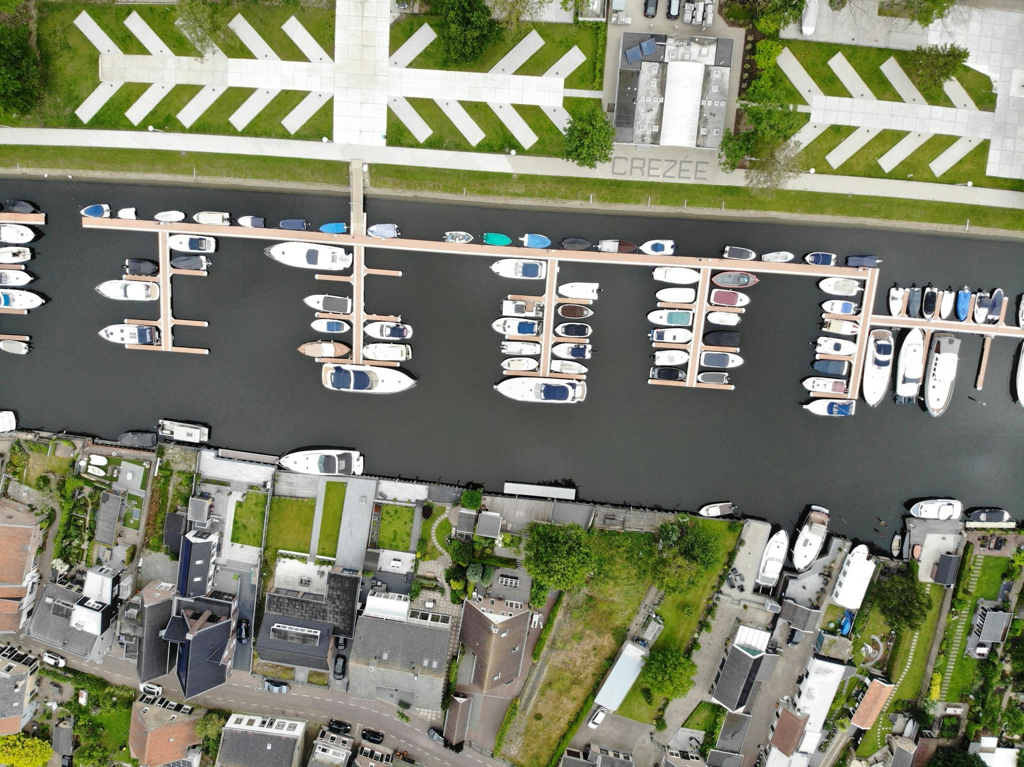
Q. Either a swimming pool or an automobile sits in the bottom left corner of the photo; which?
automobile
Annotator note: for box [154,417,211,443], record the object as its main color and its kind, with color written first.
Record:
white boat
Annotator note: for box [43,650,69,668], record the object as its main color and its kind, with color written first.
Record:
white car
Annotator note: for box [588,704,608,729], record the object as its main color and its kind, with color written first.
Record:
white car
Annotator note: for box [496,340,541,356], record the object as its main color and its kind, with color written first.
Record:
white boat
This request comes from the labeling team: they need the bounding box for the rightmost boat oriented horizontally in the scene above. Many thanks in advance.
[970,508,1010,522]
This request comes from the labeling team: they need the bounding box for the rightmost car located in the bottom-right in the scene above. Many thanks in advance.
[787,627,801,647]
